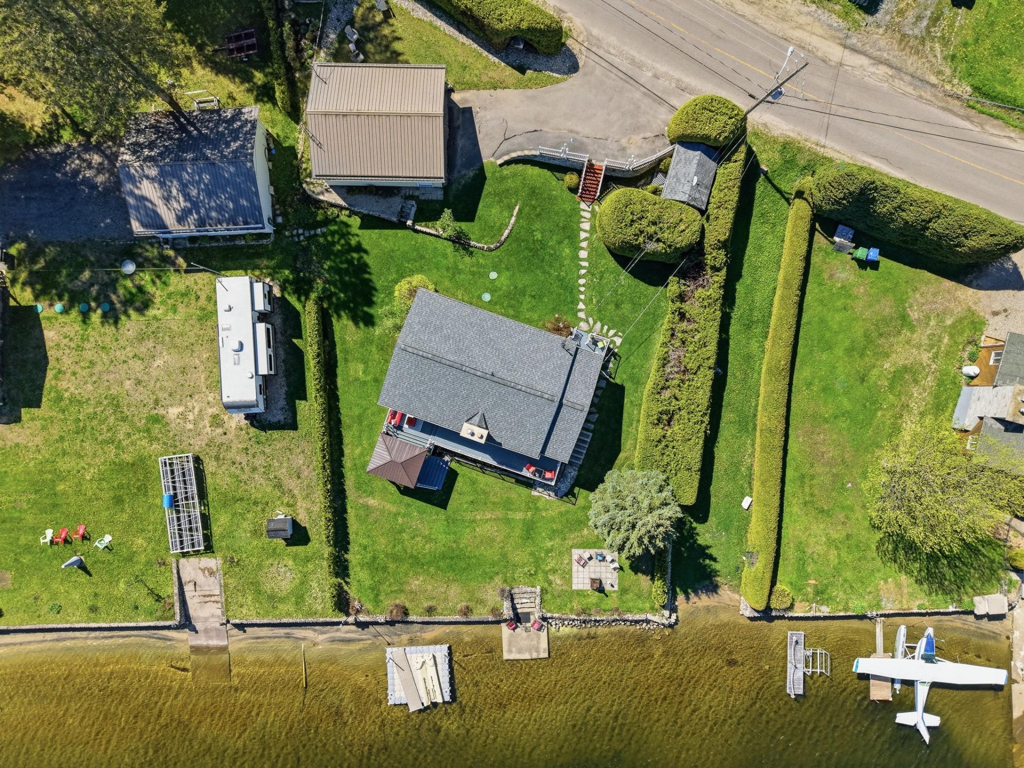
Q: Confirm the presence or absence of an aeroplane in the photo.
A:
Yes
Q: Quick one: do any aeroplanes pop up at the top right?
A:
No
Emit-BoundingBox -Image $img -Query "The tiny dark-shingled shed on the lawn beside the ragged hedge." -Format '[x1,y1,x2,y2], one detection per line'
[261,519,290,542]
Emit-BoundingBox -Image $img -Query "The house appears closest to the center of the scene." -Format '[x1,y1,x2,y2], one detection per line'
[377,287,612,486]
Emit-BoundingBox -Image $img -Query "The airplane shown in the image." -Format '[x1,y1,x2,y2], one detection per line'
[853,614,1007,746]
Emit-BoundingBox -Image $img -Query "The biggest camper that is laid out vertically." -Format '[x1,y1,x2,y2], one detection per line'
[215,276,279,421]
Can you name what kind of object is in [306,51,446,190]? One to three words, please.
building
